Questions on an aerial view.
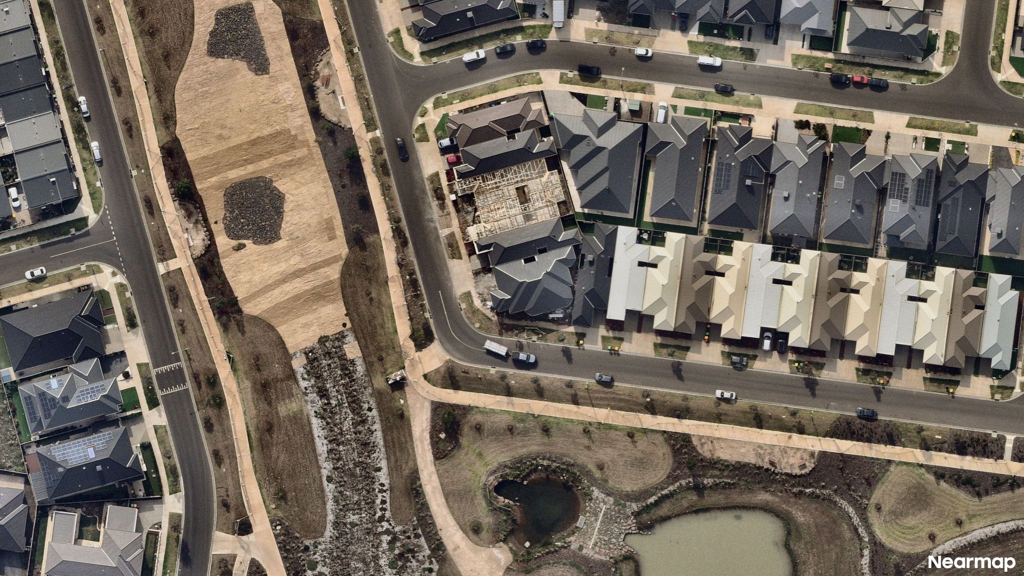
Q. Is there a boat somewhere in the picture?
No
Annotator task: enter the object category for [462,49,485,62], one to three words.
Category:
vehicle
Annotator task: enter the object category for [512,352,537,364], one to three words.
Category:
vehicle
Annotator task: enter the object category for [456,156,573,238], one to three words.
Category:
building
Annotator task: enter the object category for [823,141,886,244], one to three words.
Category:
house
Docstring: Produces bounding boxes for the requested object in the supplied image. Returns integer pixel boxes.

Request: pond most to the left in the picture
[494,476,581,545]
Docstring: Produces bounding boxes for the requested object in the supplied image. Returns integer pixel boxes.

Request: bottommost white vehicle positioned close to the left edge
[25,267,46,279]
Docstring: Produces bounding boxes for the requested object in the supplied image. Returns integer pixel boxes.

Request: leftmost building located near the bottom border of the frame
[0,486,28,553]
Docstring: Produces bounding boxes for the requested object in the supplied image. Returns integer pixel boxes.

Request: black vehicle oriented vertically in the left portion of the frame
[396,137,409,161]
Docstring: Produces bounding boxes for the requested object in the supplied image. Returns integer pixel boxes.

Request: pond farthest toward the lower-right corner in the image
[624,507,795,576]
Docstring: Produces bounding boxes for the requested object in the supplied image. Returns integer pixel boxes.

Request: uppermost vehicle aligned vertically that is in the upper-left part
[78,96,90,117]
